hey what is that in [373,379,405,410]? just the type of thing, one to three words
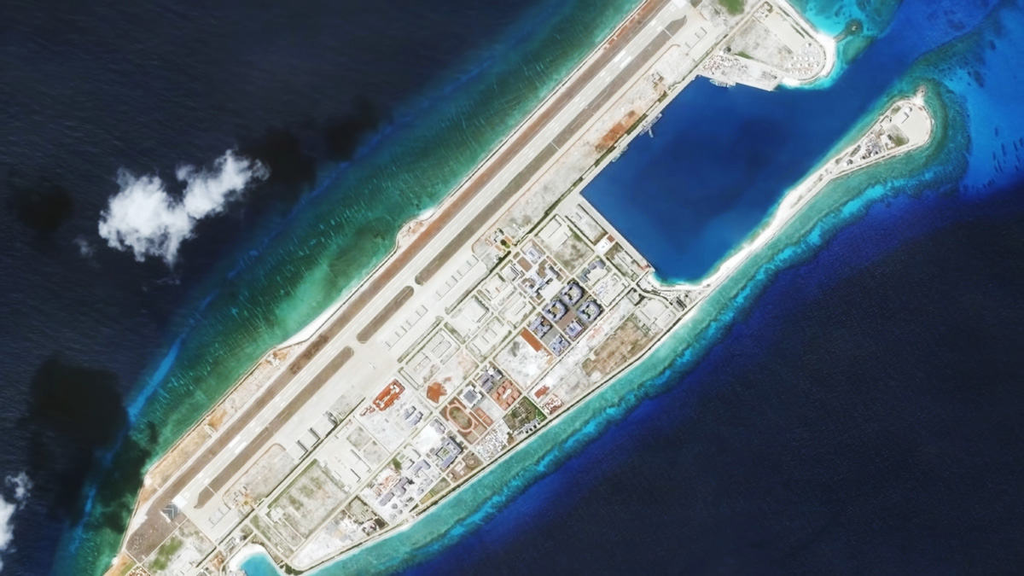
building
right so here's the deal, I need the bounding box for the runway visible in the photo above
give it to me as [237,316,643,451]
[171,0,690,511]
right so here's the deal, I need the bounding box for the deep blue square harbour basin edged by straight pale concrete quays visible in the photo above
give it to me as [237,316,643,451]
[553,63,781,274]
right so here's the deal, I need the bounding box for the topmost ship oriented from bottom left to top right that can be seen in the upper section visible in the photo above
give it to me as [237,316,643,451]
[639,115,663,136]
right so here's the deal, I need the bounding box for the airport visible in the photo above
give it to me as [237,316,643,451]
[142,0,717,560]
